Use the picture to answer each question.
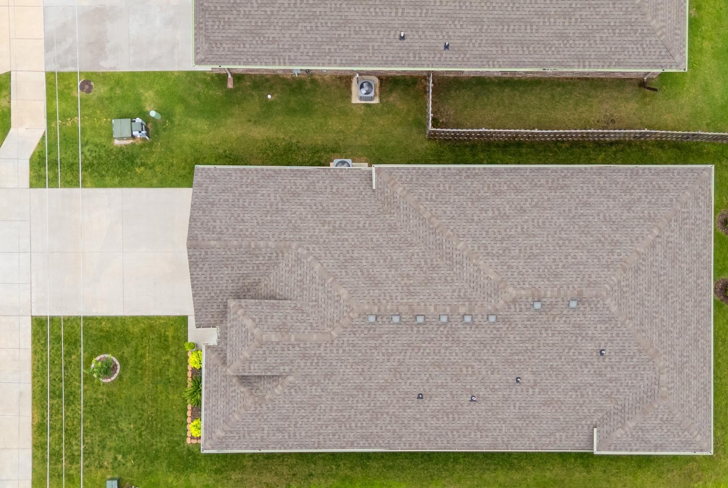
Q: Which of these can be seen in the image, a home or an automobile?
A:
home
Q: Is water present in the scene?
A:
No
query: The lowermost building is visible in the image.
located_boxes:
[184,164,715,454]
